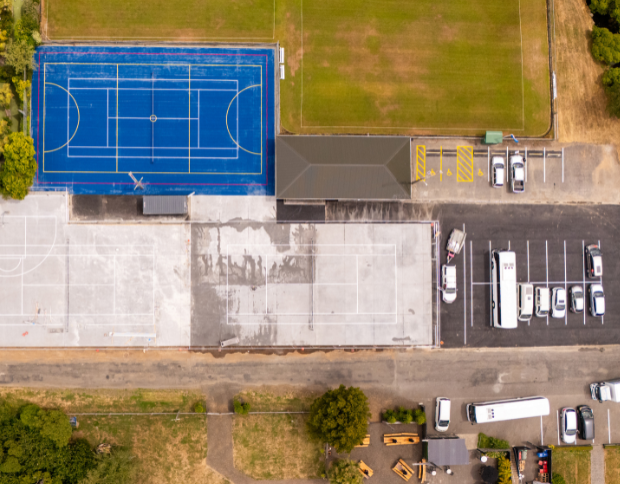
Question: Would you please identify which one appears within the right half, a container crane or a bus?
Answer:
bus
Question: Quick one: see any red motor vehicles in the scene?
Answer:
No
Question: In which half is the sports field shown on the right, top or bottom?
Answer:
top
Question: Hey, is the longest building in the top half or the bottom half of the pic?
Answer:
top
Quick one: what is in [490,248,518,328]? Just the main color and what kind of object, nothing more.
white bus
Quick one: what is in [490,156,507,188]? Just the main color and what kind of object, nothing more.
white car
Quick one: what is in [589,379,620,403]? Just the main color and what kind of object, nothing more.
white truck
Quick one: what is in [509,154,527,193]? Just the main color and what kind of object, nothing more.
white vehicle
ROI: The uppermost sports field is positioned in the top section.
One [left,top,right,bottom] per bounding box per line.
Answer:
[42,0,277,43]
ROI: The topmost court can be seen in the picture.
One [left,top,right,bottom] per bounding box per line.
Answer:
[31,46,275,194]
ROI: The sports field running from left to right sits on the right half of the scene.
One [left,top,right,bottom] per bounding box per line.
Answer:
[277,0,550,136]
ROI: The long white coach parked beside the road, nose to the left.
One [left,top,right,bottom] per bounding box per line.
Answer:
[467,395,550,428]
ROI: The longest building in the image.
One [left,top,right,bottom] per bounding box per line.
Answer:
[275,134,412,200]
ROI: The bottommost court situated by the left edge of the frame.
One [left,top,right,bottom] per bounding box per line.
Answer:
[0,190,190,348]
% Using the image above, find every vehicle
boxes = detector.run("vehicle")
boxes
[467,395,550,428]
[516,283,535,320]
[490,248,518,328]
[534,287,551,317]
[441,264,459,302]
[587,283,605,317]
[568,285,585,313]
[584,244,602,279]
[549,287,567,317]
[509,154,527,193]
[490,156,507,188]
[559,406,578,442]
[575,404,595,440]
[589,379,620,403]
[435,396,452,431]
